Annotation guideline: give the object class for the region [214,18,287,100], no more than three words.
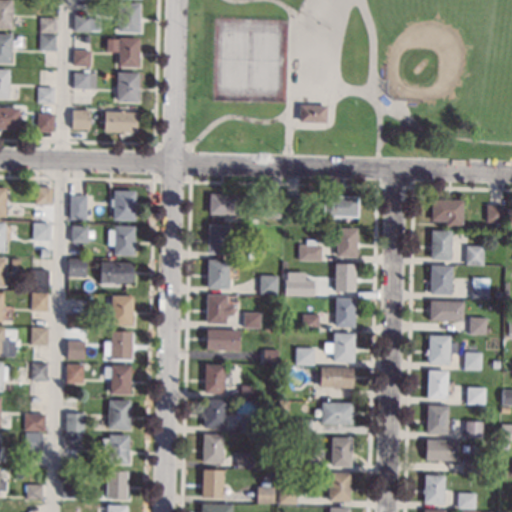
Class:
tennis court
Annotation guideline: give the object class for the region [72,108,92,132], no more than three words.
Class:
building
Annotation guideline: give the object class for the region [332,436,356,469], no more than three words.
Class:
house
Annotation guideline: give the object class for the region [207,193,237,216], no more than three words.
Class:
house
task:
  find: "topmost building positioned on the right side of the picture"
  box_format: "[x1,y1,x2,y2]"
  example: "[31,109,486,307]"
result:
[300,103,328,122]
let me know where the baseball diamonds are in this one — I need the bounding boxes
[372,0,512,134]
